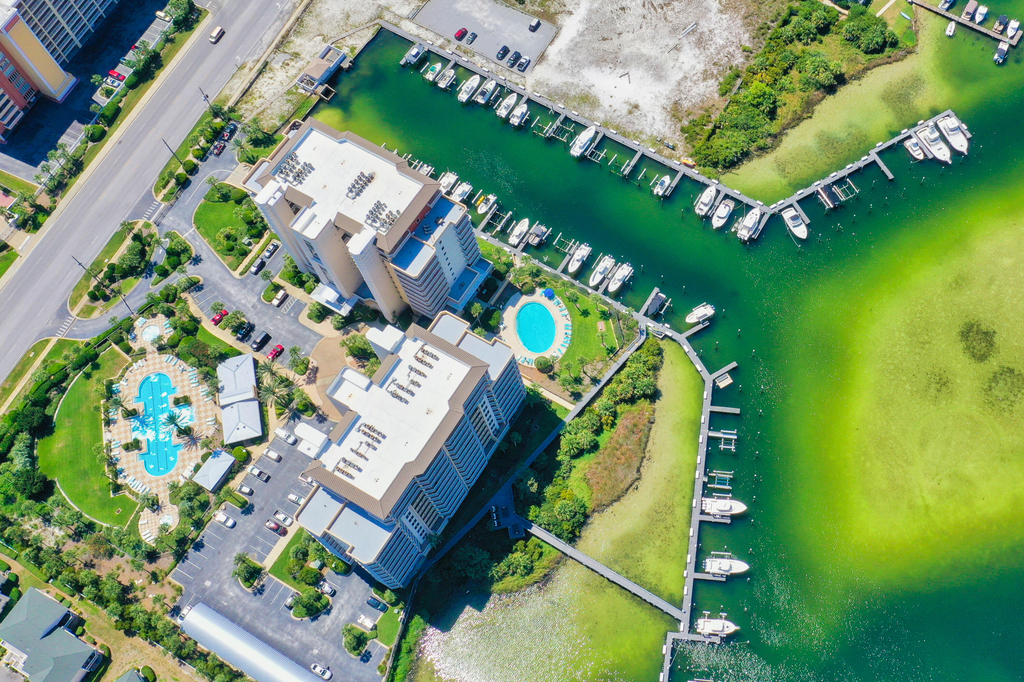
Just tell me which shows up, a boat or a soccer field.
boat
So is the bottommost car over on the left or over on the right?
left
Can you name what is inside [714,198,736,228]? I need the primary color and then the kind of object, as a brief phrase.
white boat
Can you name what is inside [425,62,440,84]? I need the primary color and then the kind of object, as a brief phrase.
white boat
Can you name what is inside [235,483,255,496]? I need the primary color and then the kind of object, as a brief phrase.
white vehicle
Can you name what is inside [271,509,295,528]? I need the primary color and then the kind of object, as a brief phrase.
white vehicle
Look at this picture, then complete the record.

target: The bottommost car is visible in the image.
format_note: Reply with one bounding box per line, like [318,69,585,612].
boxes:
[310,662,333,682]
